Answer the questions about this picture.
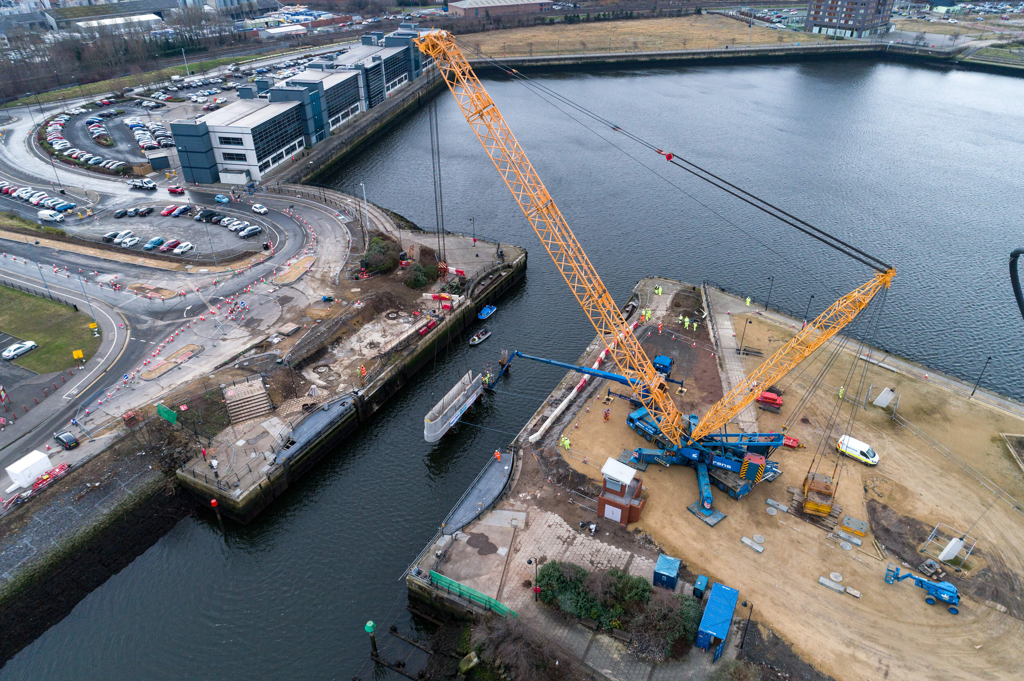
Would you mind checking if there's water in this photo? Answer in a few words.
Yes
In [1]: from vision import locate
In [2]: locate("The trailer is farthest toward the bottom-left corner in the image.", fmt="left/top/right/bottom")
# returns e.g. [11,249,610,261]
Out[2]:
[0,447,52,494]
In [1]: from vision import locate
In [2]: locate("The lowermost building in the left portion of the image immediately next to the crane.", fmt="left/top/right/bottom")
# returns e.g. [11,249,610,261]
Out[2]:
[168,27,434,185]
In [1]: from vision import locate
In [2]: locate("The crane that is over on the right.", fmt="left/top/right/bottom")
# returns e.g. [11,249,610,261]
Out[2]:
[400,37,896,517]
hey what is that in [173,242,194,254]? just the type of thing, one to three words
vehicle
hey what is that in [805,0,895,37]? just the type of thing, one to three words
building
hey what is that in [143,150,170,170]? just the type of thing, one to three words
shed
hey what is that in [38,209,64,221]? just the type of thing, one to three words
vehicle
